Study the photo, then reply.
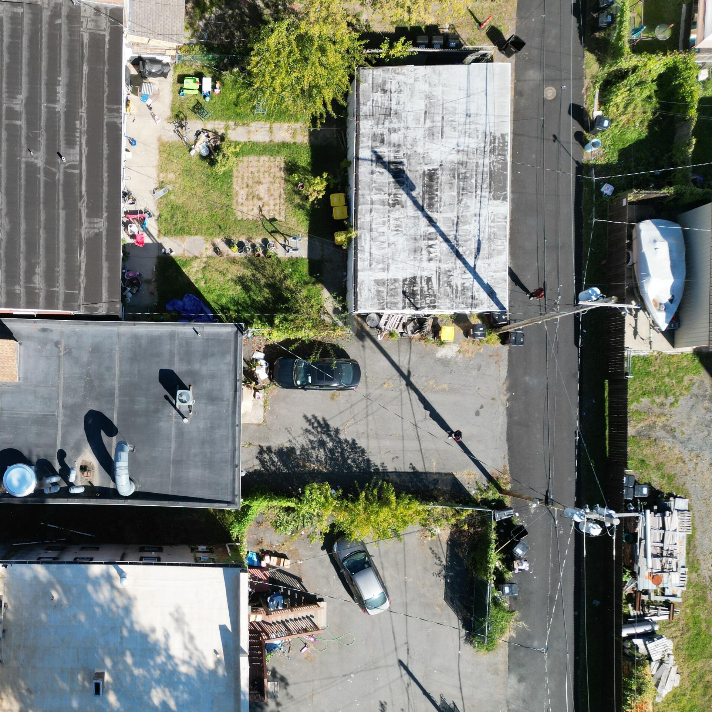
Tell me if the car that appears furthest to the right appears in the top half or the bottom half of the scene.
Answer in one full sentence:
You can find the car that appears furthest to the right in the bottom half.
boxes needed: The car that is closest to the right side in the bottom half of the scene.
[334,530,391,620]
